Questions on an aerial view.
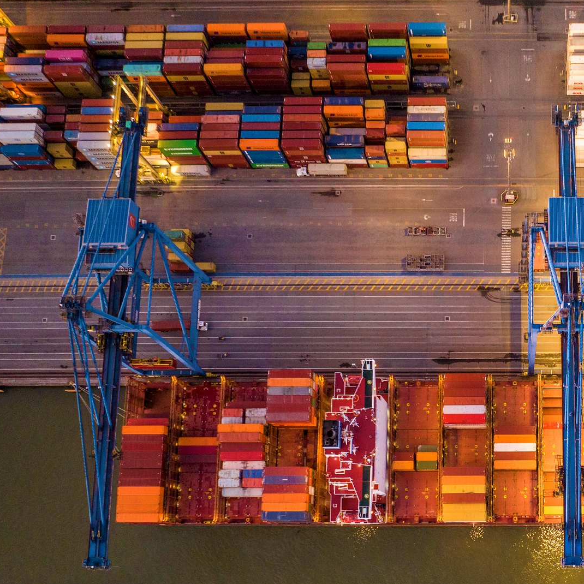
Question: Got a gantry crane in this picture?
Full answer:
Yes, I can see a gantry crane in this picture.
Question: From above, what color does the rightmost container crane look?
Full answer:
The color of the rightmost container crane is blue.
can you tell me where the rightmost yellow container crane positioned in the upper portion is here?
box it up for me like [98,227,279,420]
[106,74,175,183]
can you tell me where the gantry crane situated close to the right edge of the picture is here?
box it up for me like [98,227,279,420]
[511,106,584,572]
